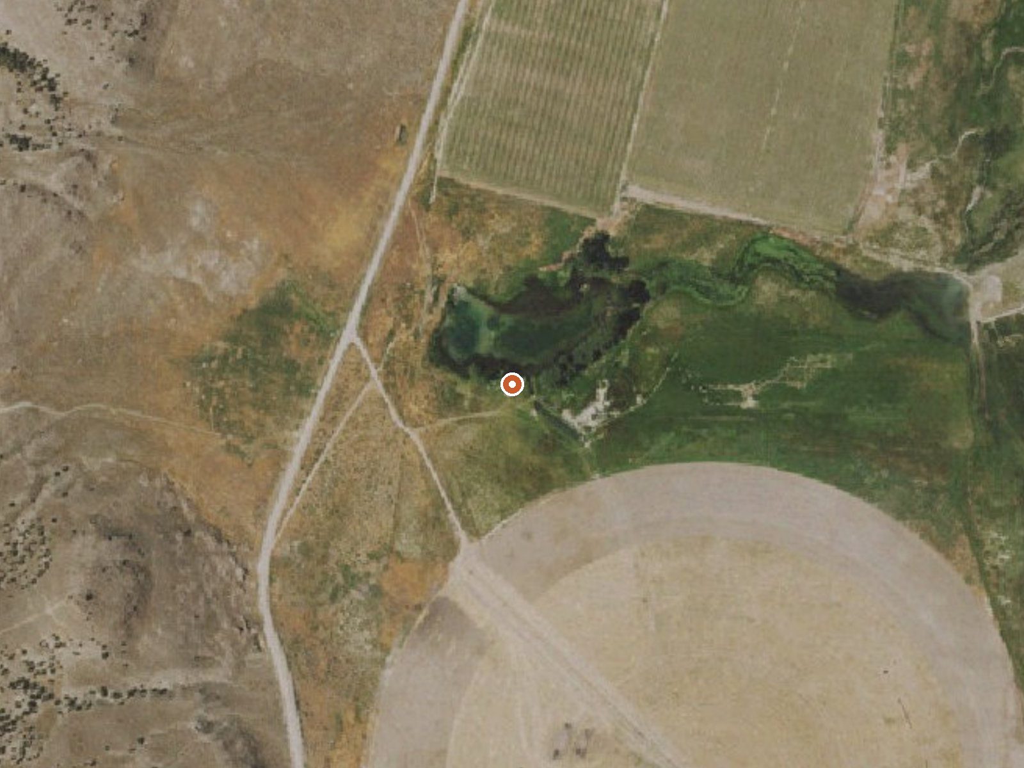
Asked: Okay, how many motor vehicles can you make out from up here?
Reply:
none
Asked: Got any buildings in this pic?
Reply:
No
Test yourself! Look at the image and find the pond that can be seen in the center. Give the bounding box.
[431,275,648,382]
